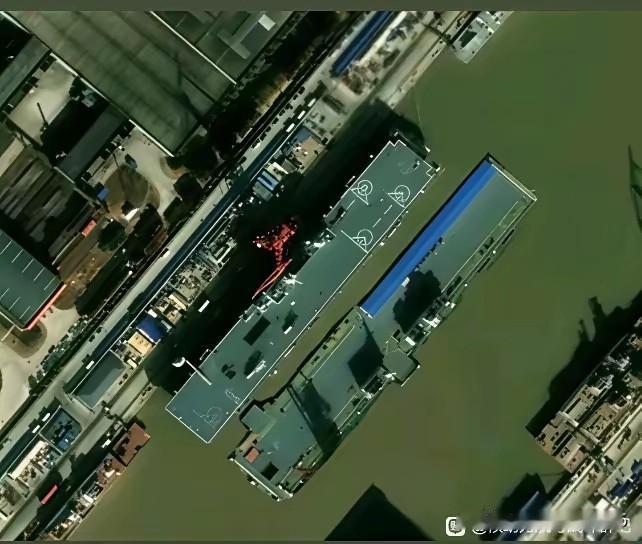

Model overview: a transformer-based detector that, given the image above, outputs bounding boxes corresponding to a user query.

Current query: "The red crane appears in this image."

[253,224,293,298]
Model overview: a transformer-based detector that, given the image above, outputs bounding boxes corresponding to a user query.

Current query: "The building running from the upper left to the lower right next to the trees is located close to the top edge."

[0,0,235,159]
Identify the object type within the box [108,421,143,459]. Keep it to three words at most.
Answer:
ship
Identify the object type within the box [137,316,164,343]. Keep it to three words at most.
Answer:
shed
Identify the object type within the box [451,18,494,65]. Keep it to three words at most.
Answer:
ship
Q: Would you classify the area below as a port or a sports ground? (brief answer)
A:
port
